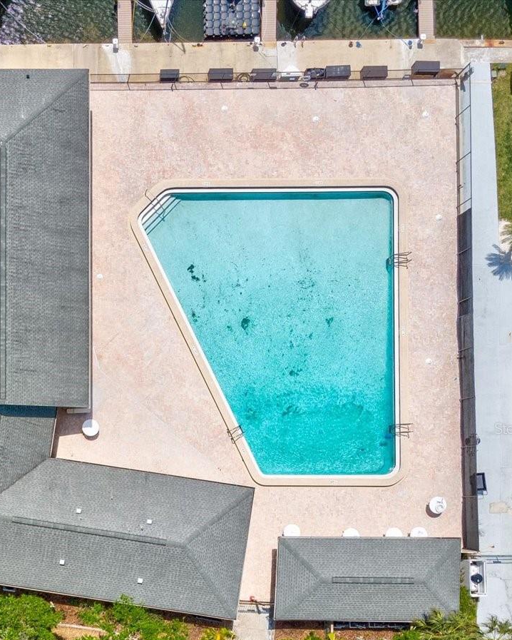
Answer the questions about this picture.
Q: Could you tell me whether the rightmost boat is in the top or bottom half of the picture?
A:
top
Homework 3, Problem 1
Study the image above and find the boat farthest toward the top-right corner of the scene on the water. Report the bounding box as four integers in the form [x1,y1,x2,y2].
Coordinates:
[363,0,397,25]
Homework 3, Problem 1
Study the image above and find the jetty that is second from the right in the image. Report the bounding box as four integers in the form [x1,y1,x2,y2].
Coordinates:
[254,0,282,41]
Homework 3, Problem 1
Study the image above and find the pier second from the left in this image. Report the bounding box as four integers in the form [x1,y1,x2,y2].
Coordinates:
[203,0,258,38]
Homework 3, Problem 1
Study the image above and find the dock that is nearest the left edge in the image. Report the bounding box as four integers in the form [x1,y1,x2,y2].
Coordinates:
[112,0,137,42]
